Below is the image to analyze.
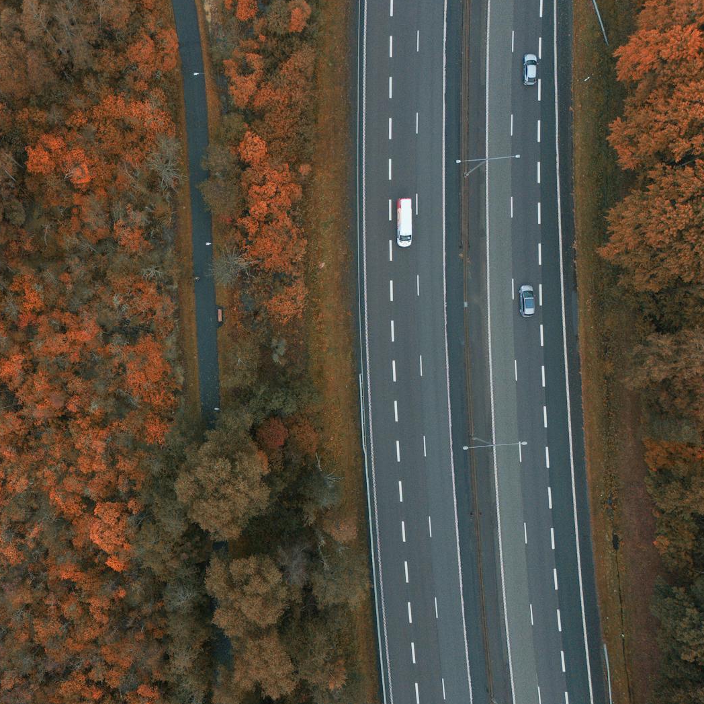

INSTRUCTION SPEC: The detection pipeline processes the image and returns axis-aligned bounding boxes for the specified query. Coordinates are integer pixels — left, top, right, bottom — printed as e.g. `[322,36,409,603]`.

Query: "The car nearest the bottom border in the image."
[520,285,536,317]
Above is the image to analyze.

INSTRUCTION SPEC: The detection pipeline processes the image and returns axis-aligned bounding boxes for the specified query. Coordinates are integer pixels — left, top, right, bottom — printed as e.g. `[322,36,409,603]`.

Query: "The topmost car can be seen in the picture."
[523,53,539,85]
